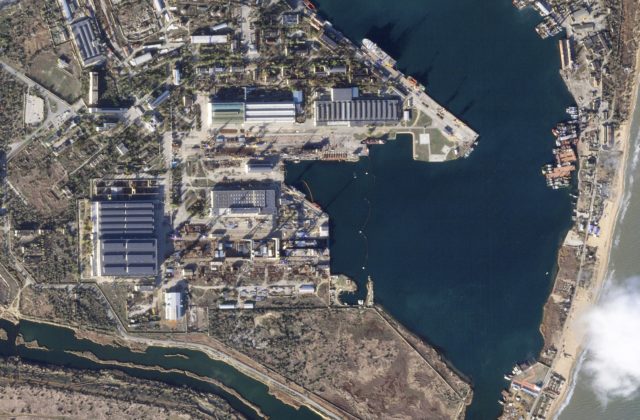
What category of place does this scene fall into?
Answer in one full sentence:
This image shows a port.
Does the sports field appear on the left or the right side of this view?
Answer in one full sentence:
The sports field sits on the left side.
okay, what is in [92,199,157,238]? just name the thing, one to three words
building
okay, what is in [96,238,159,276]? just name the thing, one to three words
building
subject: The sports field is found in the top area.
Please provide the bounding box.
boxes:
[29,51,81,99]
